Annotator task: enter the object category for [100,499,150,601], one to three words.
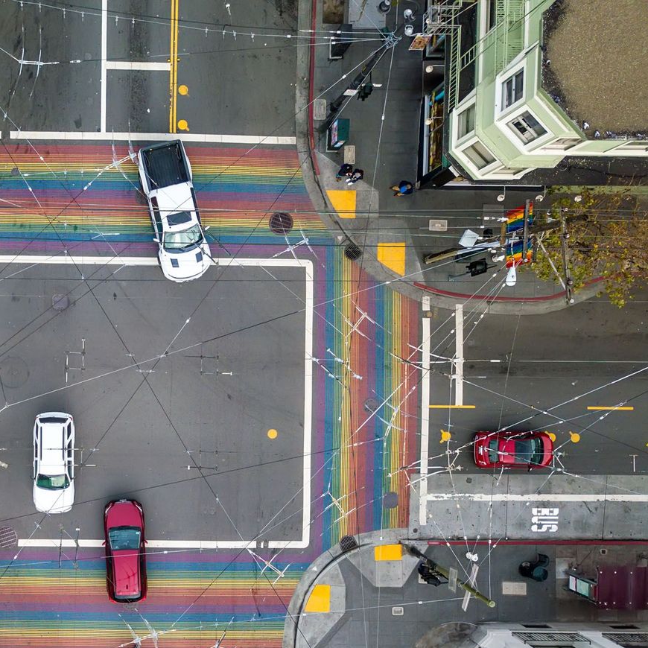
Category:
car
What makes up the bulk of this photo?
paved ground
